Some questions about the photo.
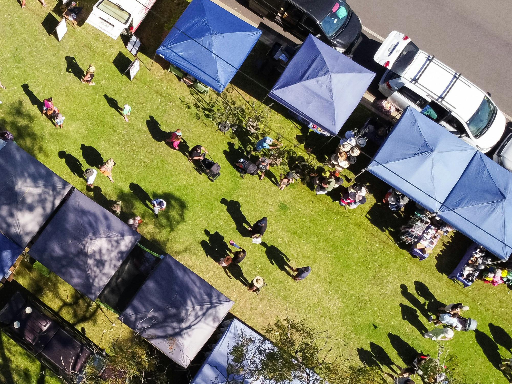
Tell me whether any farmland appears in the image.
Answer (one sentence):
No, no farmland is visible.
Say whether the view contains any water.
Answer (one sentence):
No, the scene doesn't show any water.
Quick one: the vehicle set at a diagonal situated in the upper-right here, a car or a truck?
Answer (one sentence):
The vehicle set at a diagonal situated in the upper-right can be classified as a car.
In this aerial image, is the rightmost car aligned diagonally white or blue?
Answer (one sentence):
From above, the rightmost car aligned diagonally appears white.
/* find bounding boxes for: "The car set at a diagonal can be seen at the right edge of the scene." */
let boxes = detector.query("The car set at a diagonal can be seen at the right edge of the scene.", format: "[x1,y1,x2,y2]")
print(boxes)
[374,31,508,157]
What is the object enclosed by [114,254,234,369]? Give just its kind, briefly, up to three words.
gazebo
